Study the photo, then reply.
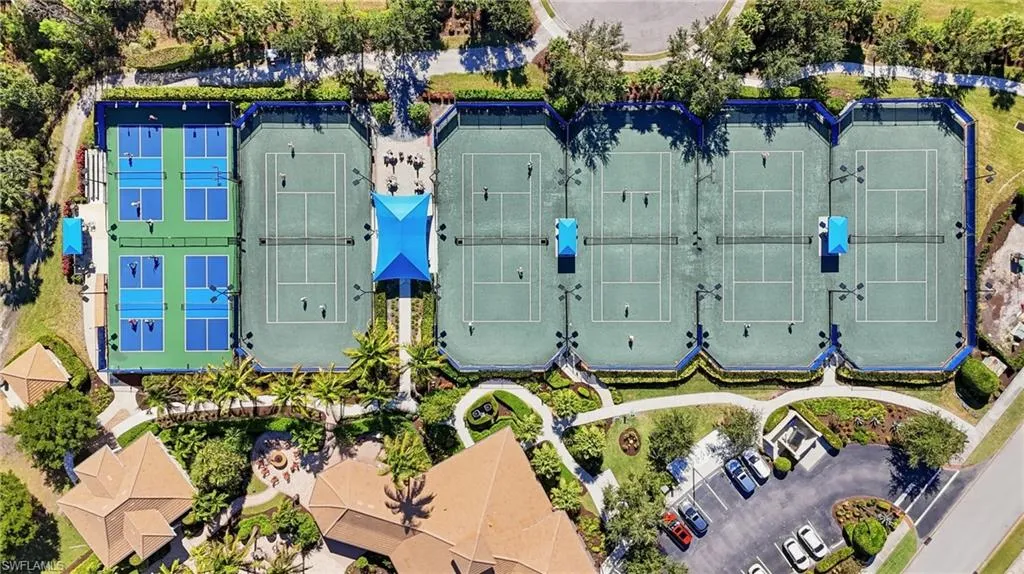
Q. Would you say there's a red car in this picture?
Yes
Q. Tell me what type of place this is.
sports ground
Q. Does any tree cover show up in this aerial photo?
Yes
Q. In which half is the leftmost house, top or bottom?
bottom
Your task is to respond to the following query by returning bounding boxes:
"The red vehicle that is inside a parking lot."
[663,512,693,546]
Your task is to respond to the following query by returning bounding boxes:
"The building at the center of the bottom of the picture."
[308,428,599,574]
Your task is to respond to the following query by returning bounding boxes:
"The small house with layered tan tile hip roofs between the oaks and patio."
[56,430,198,568]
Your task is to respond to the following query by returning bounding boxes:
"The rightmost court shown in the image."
[830,105,966,367]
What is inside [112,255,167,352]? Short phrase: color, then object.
blue sports court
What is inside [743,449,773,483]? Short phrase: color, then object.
white car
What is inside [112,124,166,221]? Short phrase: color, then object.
blue sports court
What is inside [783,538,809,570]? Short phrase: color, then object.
white car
